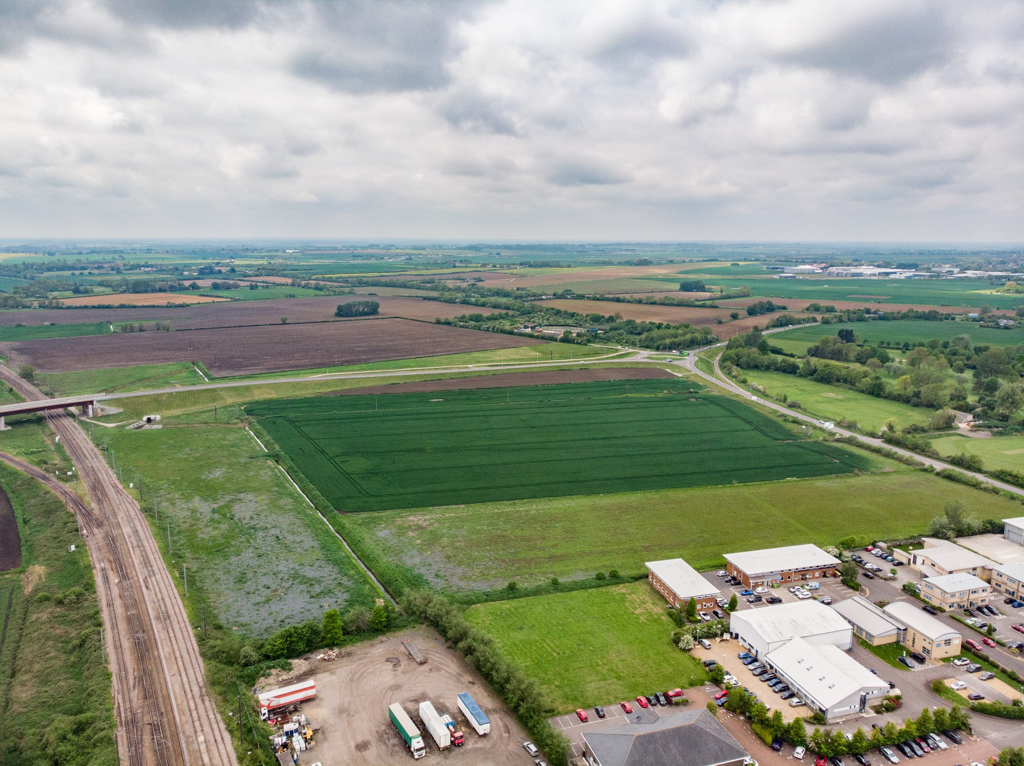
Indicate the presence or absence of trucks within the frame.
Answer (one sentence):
Yes, there is a truck in the image.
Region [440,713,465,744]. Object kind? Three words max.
truck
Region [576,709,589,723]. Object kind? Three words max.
vehicle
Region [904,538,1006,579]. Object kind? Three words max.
building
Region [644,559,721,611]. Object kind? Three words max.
building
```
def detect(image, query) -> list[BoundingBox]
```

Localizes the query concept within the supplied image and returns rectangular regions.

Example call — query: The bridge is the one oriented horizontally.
[0,392,129,426]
